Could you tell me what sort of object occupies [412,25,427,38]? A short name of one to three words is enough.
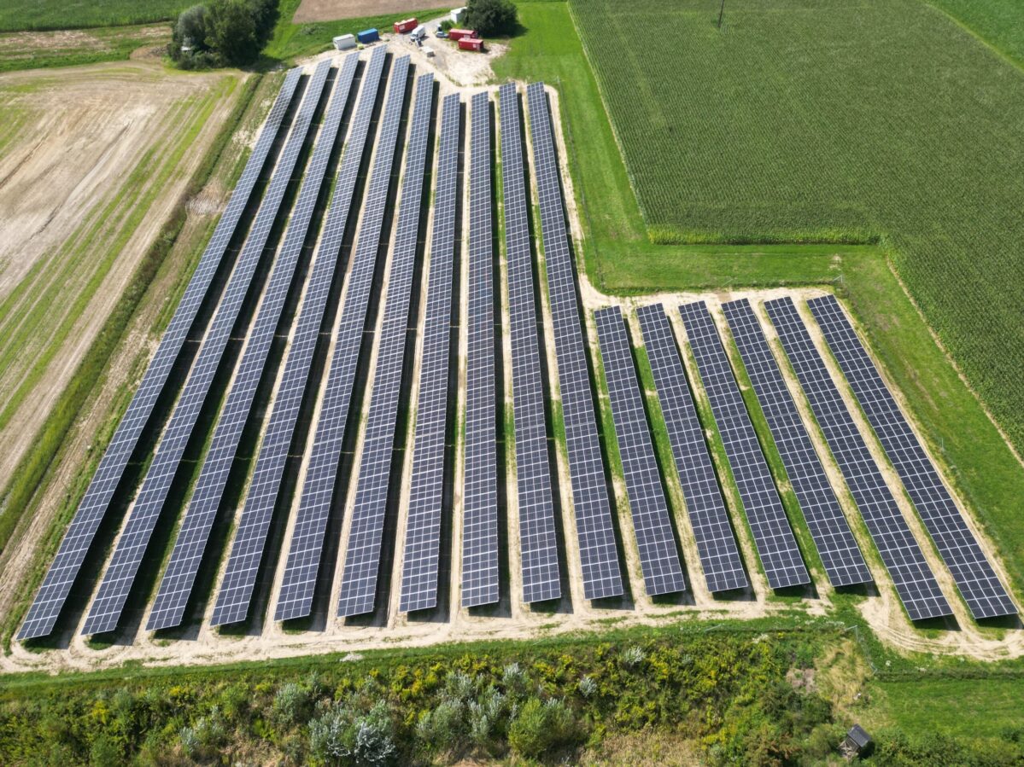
vehicle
